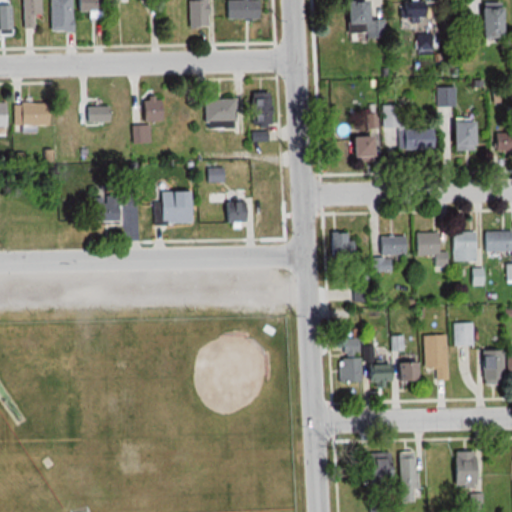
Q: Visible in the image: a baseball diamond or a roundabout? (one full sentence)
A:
I can see a baseball diamond in this picture.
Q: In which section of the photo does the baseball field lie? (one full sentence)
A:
The baseball field is located in the bottom region of the scene.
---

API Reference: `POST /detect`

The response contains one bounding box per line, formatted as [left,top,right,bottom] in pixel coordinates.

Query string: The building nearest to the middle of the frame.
[226,196,248,230]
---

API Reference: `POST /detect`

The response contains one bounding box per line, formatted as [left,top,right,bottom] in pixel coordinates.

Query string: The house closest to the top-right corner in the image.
[485,0,508,38]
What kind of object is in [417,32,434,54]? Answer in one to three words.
building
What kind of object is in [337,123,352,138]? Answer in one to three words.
swimming pool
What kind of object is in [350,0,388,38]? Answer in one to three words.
house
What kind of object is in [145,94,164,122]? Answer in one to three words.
house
